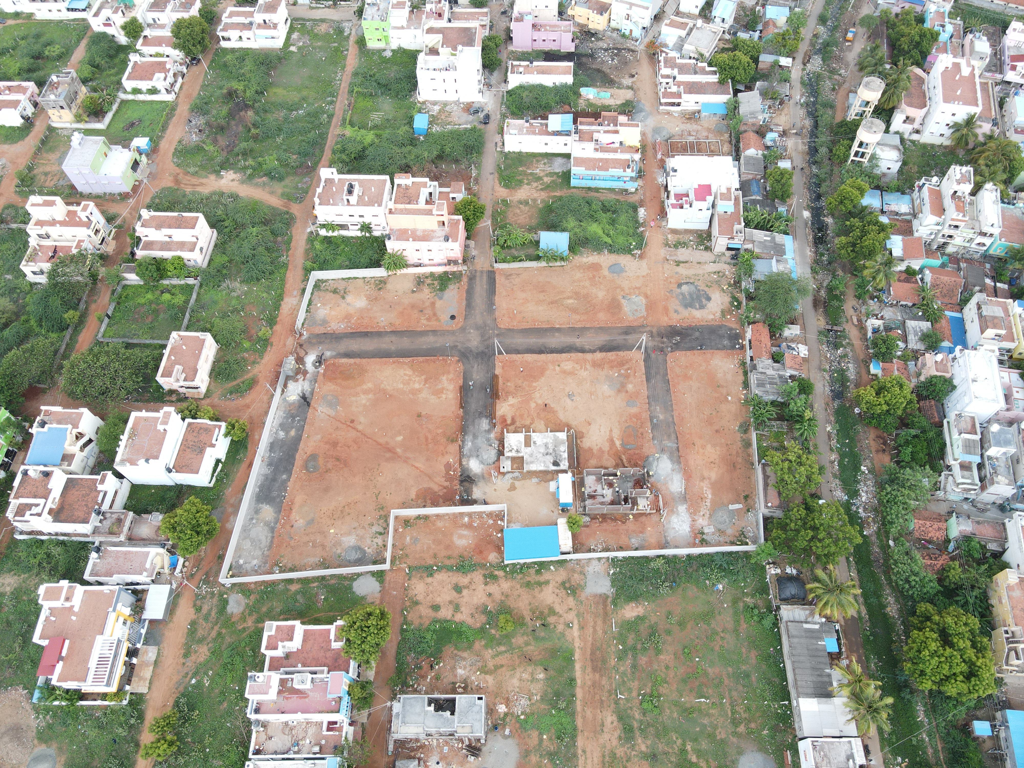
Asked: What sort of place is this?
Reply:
residential area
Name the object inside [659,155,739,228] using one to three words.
house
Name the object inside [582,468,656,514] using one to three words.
house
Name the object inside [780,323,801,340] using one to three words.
shed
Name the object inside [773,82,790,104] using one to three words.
shed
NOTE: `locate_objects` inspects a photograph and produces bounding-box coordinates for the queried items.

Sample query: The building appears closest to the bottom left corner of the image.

[34,585,147,696]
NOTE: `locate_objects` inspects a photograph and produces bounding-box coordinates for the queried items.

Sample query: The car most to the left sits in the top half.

[125,246,138,259]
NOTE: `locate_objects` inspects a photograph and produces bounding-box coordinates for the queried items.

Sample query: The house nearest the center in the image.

[501,427,576,480]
